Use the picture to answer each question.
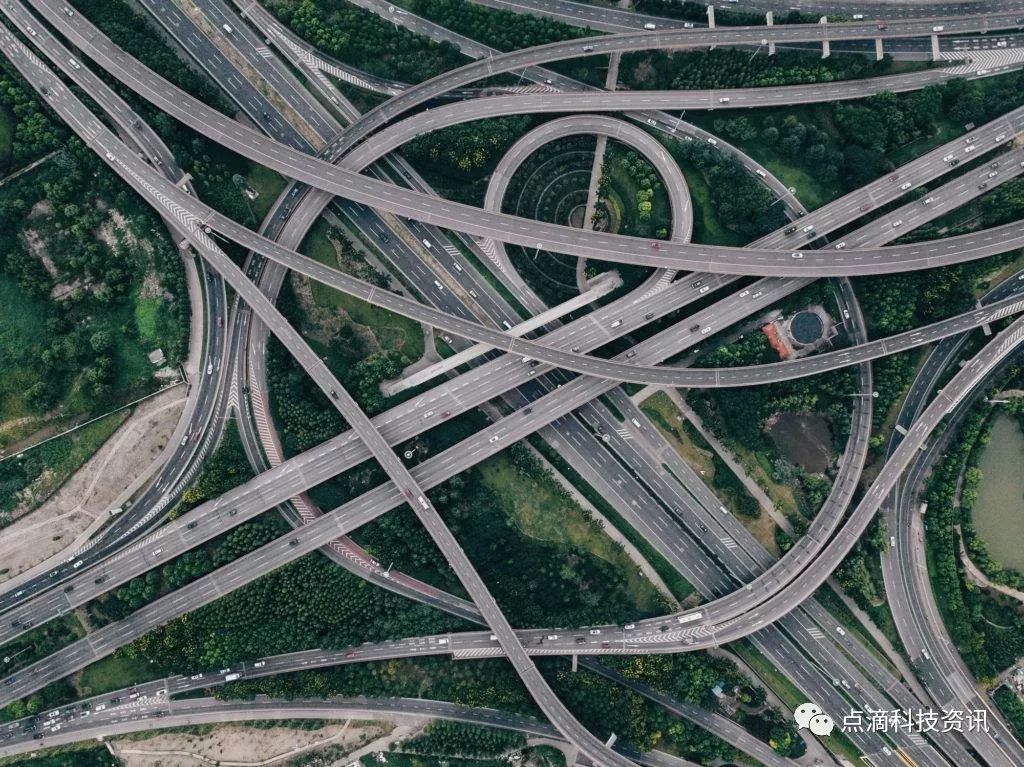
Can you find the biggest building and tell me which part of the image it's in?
right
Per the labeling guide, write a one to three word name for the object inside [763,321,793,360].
building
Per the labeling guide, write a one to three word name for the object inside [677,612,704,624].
vehicle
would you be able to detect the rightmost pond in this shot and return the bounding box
[972,406,1024,572]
